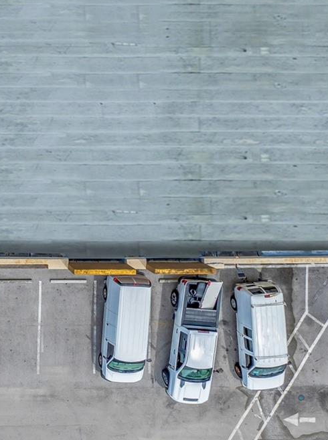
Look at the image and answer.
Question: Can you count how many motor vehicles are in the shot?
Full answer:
Looking from above, you can make out 3 motor vehicles.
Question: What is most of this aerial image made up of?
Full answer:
Most of the picture is covered by buildings.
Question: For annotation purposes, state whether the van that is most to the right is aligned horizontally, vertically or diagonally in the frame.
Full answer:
Seen from above, the van that is most to the right lies vertically.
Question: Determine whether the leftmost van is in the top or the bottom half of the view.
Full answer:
Seen from above, the leftmost van lies in the bottom half of the view.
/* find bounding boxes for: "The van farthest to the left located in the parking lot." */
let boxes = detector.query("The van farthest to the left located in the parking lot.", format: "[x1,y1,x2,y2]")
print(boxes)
[100,276,157,384]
